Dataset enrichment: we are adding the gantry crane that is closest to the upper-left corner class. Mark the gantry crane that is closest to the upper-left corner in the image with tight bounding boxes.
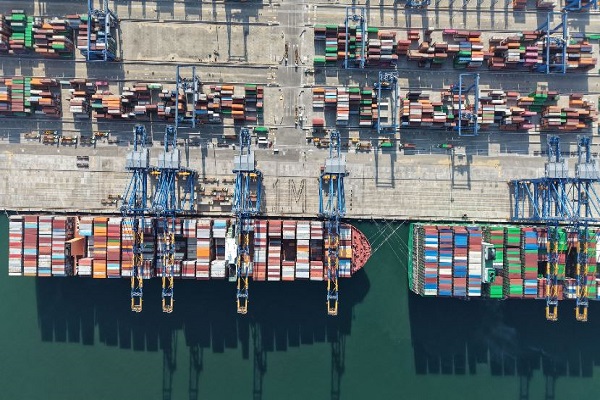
[86,0,122,64]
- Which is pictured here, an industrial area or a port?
port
